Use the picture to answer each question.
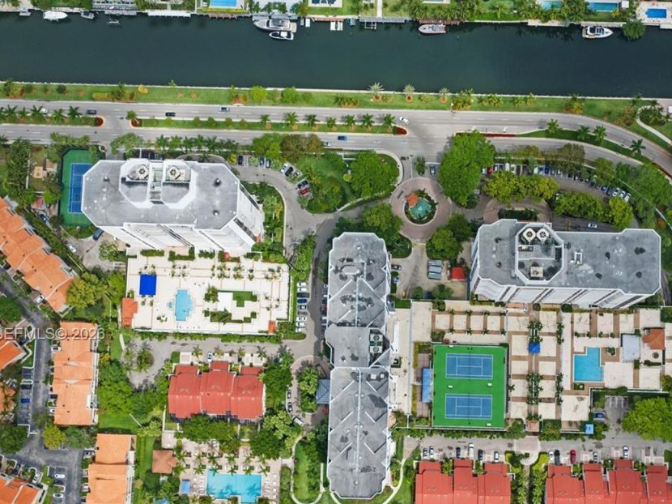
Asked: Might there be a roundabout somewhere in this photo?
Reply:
Yes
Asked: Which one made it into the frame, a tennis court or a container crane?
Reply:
tennis court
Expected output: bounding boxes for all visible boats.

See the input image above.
[81,12,95,20]
[418,24,446,33]
[252,16,298,32]
[269,31,295,40]
[44,11,69,20]
[581,26,614,38]
[20,10,32,17]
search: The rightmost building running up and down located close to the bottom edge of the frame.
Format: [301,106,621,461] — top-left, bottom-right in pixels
[328,366,393,499]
